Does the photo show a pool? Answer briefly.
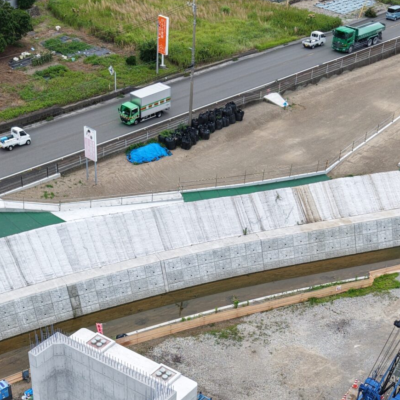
No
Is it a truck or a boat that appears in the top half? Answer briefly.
truck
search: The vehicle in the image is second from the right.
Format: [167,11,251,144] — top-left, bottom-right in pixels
[331,21,383,54]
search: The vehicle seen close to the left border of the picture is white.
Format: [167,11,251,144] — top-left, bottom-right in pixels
[0,125,32,151]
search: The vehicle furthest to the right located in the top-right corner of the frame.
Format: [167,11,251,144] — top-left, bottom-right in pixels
[386,5,400,21]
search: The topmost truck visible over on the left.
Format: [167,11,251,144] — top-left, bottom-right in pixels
[114,82,168,126]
